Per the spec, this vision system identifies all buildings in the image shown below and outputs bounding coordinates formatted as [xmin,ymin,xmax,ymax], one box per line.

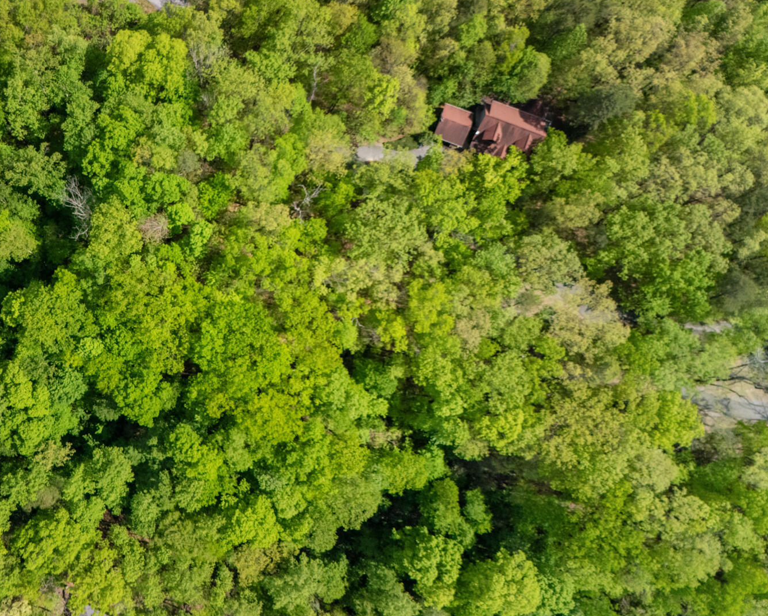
[435,104,474,145]
[466,91,552,167]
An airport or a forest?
forest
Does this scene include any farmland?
No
